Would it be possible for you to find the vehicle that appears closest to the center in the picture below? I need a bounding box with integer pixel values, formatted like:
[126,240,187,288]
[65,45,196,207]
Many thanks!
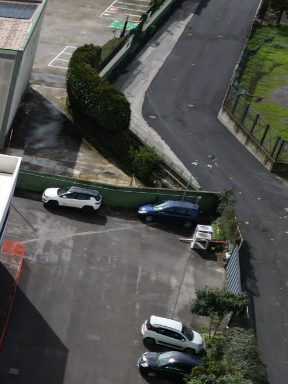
[140,200,204,229]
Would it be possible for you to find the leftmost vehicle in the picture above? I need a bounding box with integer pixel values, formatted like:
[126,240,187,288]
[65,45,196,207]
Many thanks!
[45,188,104,216]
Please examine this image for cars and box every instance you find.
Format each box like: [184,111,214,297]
[140,200,204,229]
[45,188,104,216]
[140,350,213,384]
[140,313,204,355]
